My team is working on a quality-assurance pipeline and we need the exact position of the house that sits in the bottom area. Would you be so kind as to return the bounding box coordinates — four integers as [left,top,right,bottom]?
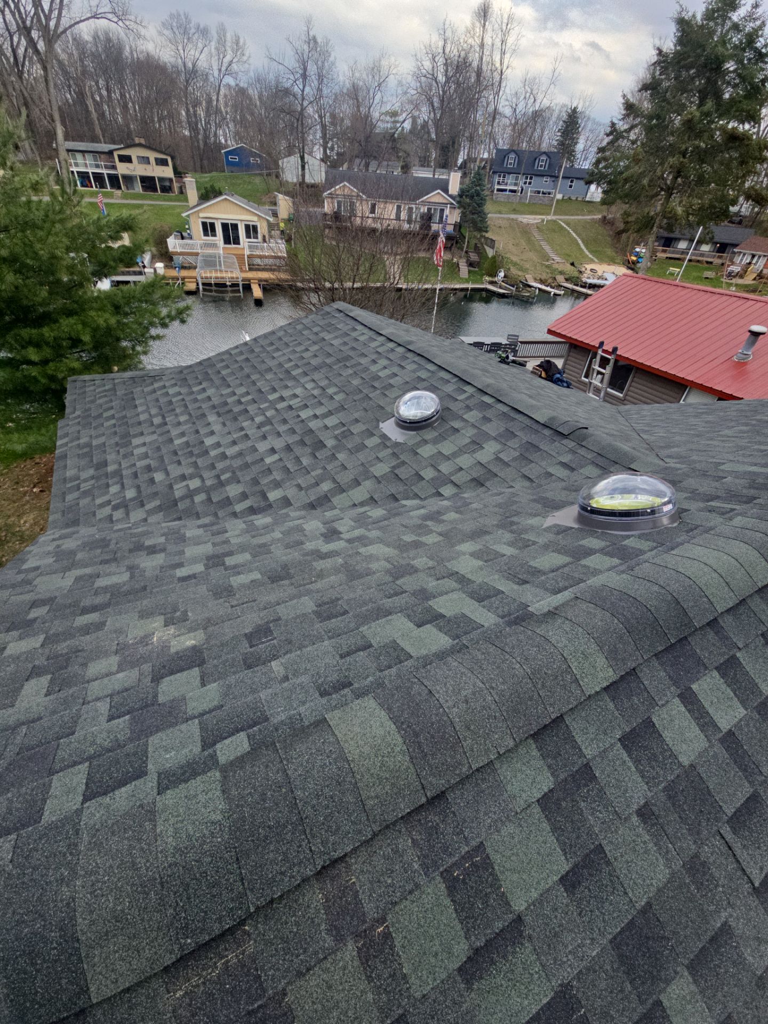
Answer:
[0,297,768,1024]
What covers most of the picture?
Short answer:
buildings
